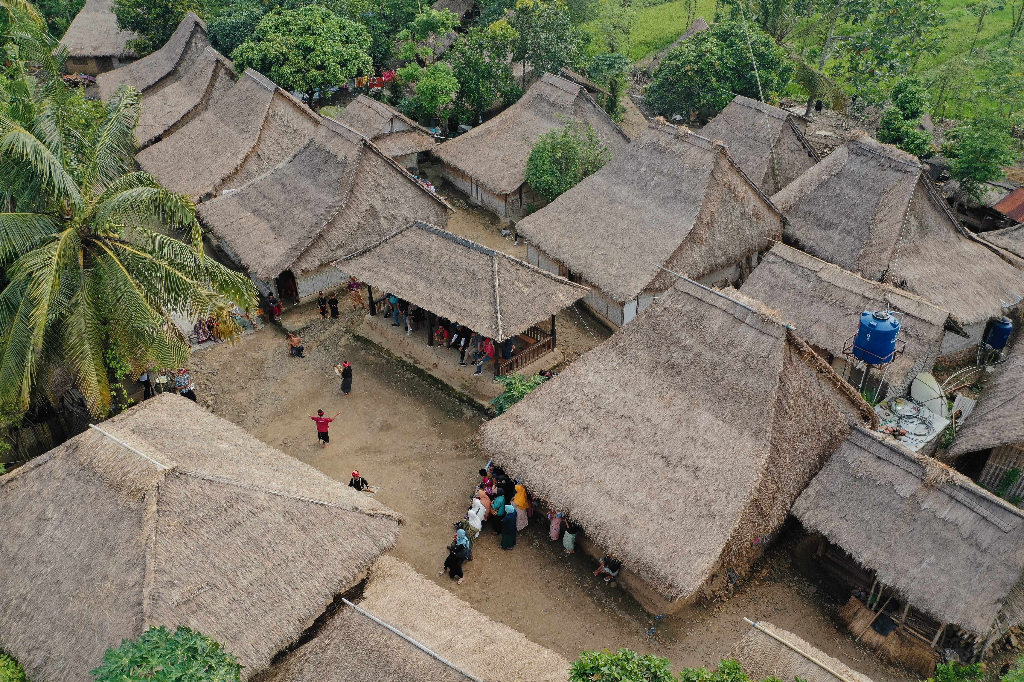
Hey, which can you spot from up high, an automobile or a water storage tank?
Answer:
water storage tank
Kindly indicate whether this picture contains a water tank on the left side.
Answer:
No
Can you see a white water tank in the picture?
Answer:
No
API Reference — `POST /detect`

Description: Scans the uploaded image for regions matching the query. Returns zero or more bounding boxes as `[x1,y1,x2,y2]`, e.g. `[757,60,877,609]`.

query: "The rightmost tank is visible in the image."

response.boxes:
[972,324,1016,389]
